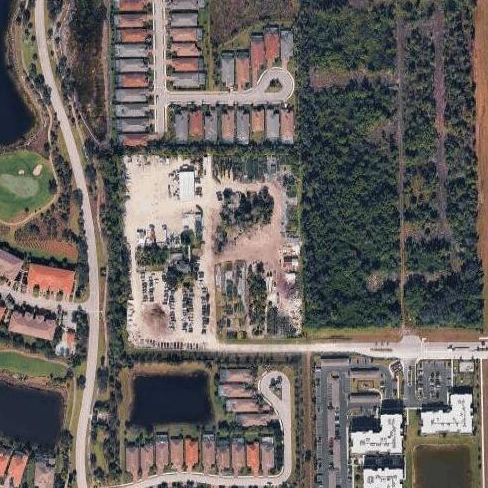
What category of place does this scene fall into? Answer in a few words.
residential area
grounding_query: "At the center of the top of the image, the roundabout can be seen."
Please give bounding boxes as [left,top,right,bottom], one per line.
[239,68,294,102]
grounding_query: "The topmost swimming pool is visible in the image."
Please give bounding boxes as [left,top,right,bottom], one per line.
[55,340,70,357]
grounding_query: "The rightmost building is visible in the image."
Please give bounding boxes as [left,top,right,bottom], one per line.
[421,394,474,434]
